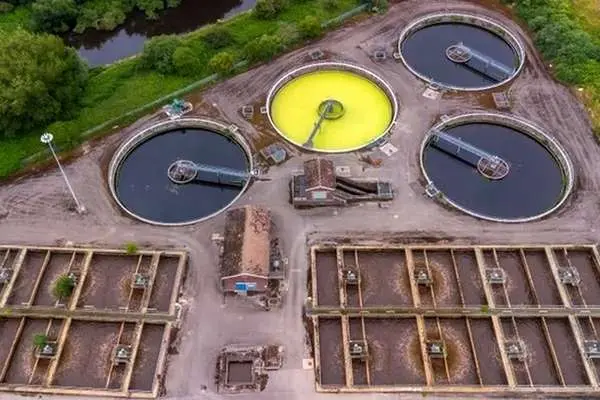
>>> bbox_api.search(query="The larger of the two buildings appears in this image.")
[219,201,286,298]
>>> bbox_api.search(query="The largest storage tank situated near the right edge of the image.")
[420,113,572,224]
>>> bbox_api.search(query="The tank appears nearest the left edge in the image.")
[108,119,254,227]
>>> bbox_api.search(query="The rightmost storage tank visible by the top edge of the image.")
[398,14,524,93]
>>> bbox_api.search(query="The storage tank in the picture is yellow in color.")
[266,63,397,153]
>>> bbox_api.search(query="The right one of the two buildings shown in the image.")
[302,155,337,204]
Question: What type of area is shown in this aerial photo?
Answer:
industrial area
